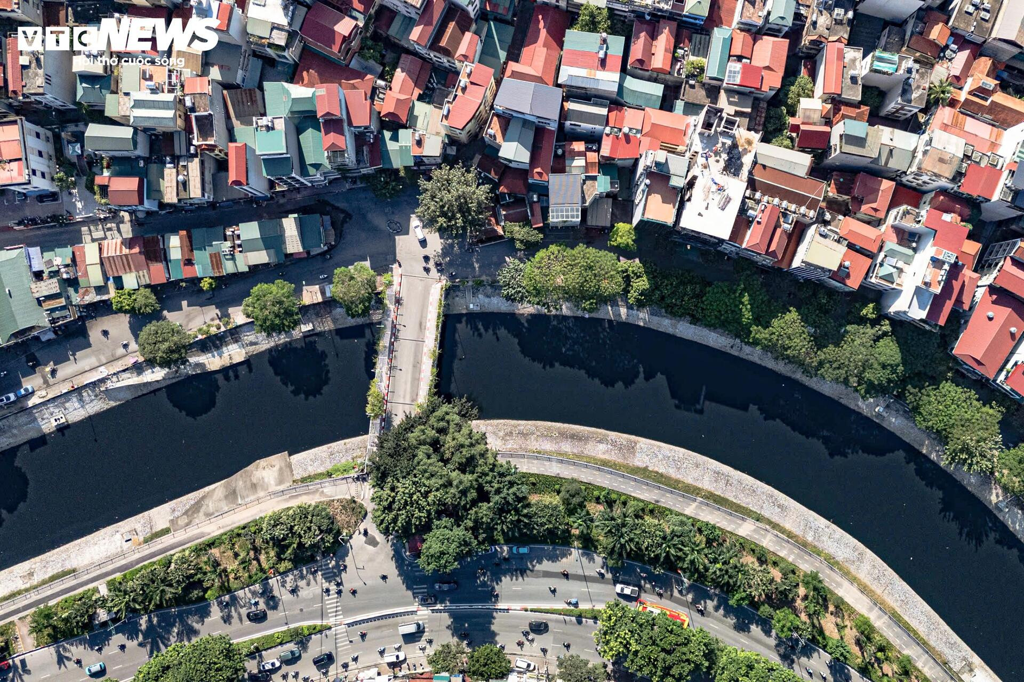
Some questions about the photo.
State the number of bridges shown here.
1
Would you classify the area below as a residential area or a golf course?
residential area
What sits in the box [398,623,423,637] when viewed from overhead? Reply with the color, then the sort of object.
white vehicle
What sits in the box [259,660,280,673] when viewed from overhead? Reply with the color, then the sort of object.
white vehicle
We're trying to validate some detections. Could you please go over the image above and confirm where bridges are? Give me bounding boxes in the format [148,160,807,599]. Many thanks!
[366,272,445,476]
